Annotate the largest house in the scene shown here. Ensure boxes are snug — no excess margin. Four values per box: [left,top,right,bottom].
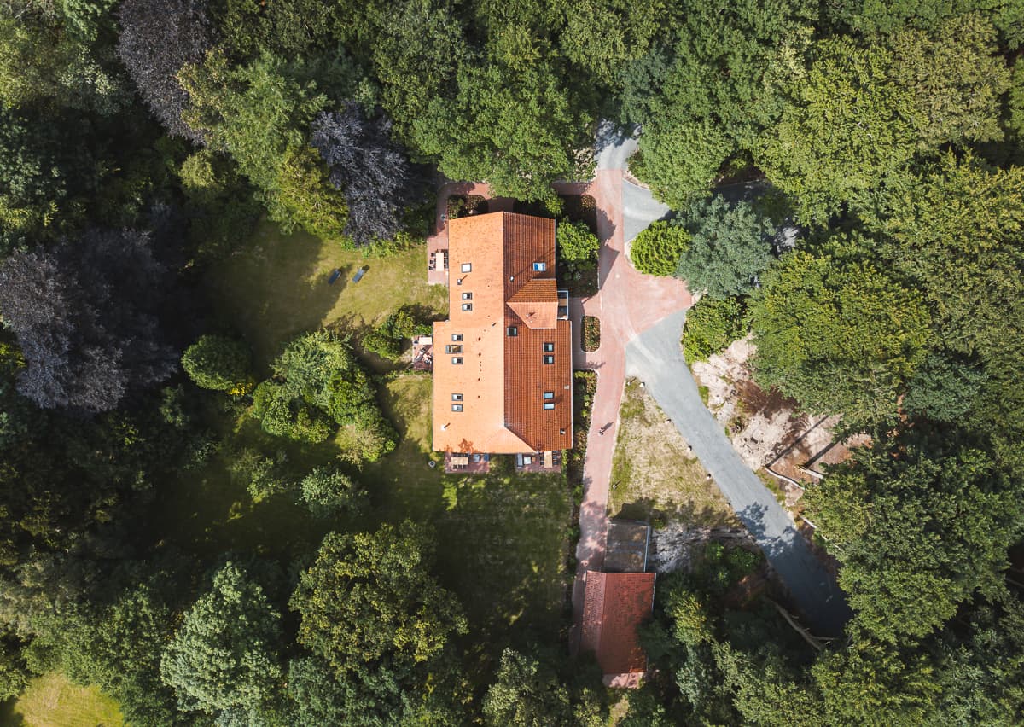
[431,213,574,454]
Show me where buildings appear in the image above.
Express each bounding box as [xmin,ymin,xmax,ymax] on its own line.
[431,213,574,454]
[580,565,653,673]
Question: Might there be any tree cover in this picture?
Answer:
Yes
